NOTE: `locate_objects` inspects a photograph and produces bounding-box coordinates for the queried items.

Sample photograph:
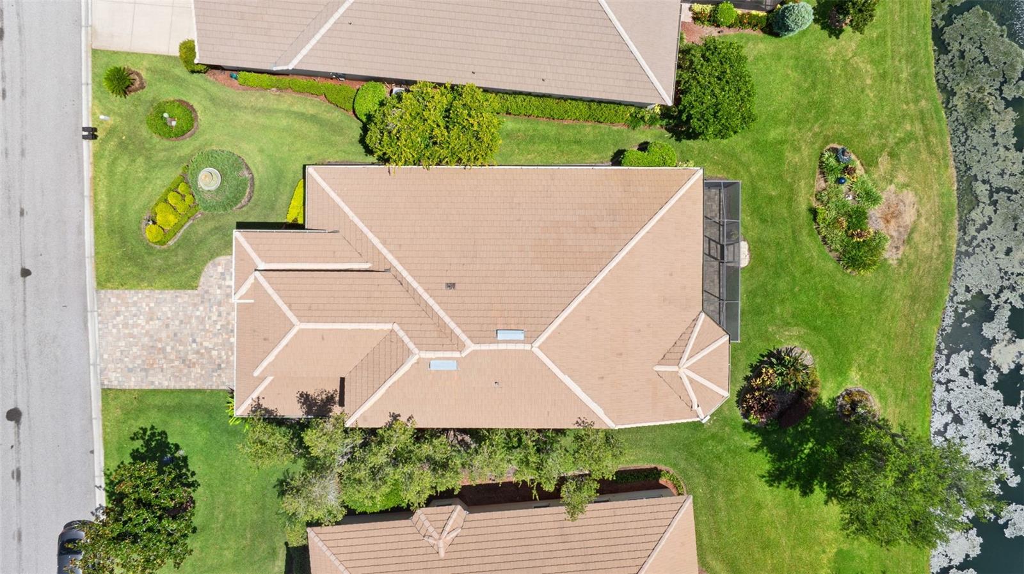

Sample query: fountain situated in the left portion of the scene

[197,167,221,190]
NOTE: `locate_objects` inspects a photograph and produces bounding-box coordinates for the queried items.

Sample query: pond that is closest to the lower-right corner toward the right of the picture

[922,0,1024,574]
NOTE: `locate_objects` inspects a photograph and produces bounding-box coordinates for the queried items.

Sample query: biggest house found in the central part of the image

[232,165,731,430]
